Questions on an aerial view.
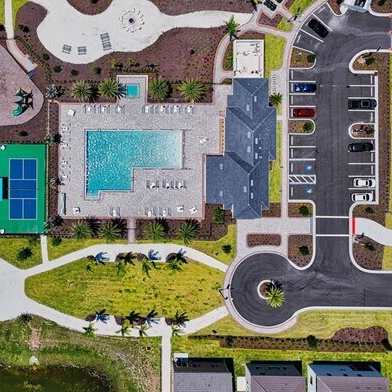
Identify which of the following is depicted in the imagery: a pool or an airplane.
pool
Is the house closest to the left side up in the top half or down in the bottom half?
bottom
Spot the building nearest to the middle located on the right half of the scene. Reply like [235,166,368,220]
[205,78,277,219]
